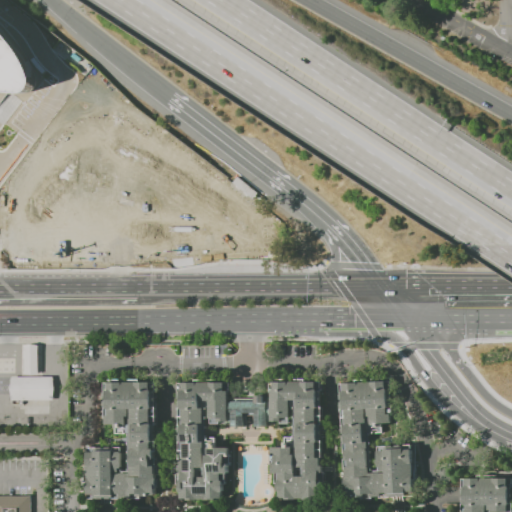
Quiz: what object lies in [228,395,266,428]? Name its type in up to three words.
building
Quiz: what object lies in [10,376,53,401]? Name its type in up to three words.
building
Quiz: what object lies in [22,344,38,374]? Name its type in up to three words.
shed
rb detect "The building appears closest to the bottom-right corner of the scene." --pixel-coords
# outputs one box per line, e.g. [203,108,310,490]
[458,474,506,512]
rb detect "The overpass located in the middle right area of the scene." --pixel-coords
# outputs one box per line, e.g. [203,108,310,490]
[453,162,512,280]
